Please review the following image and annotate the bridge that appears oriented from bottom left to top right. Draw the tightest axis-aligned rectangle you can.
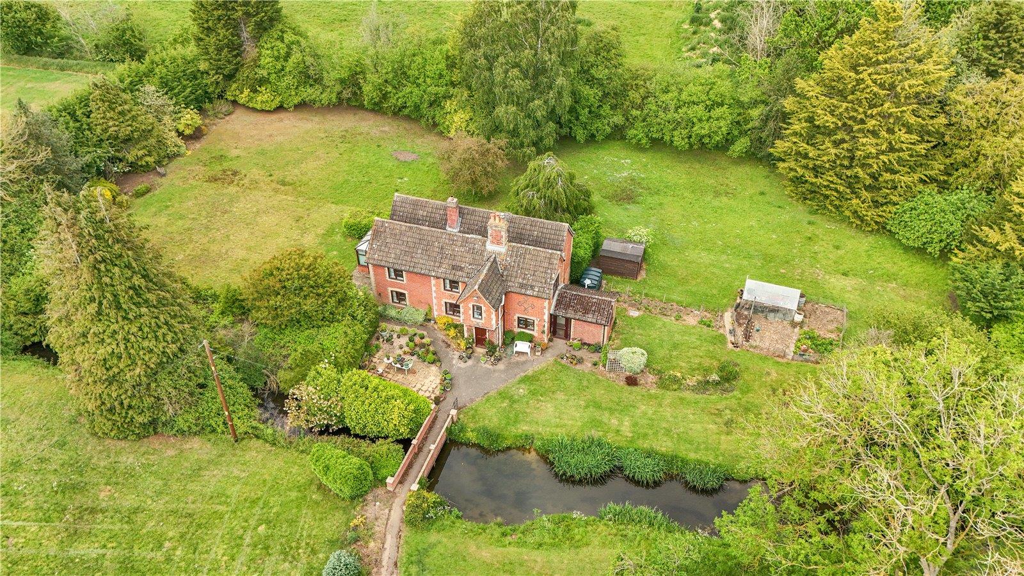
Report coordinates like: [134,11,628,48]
[385,402,457,500]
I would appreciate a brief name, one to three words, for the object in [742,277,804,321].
greenhouse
